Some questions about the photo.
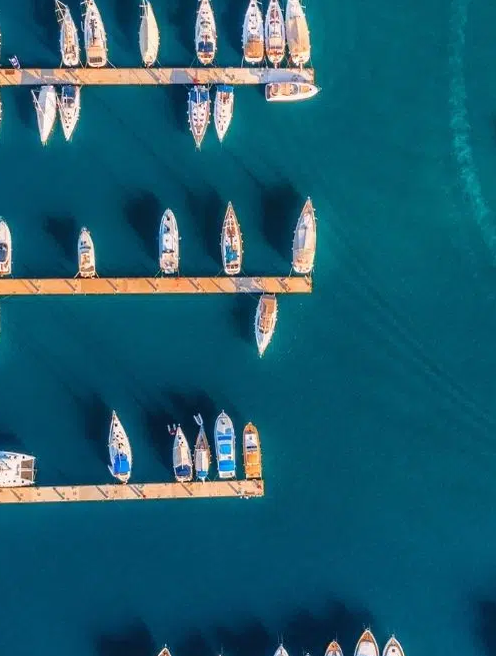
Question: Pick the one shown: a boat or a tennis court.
boat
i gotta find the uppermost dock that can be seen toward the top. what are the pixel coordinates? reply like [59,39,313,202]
[0,67,314,86]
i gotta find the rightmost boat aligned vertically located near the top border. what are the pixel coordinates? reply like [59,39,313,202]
[285,0,313,74]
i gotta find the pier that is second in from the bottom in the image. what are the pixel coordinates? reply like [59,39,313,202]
[0,276,311,296]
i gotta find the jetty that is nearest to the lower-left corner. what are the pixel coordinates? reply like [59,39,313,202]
[0,480,265,505]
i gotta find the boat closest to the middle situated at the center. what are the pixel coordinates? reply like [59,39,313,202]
[253,286,281,357]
